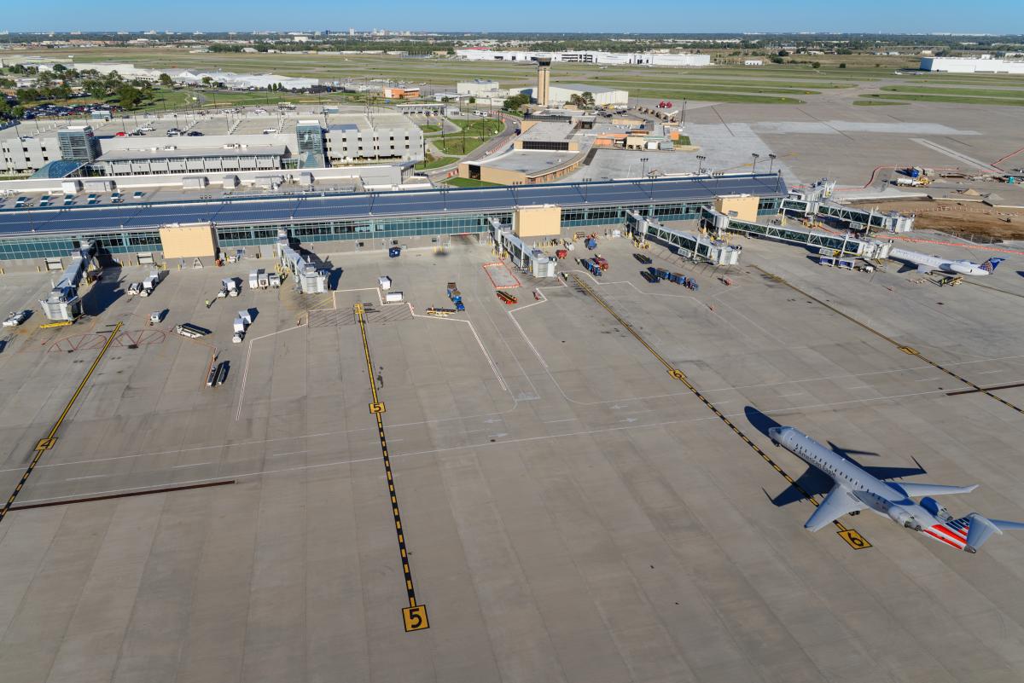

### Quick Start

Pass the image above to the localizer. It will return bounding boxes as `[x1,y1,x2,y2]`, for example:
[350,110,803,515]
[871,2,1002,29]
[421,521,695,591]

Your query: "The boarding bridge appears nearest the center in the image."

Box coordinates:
[480,218,568,274]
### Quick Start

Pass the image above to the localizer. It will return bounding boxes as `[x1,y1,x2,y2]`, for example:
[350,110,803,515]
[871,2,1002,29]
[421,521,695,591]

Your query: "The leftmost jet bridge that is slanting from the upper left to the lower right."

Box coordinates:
[273,229,322,290]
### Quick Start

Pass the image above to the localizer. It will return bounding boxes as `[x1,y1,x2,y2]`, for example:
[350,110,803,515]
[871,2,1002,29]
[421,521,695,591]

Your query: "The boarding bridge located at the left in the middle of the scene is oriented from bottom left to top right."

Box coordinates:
[34,239,116,319]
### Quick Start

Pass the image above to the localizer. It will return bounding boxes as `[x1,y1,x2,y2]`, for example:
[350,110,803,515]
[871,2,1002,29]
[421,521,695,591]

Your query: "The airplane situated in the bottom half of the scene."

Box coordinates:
[770,426,1024,560]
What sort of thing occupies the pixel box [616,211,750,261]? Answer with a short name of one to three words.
jet bridge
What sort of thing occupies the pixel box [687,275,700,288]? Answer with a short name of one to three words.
vehicle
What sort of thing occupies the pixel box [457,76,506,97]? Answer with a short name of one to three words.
building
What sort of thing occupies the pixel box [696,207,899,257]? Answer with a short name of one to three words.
jet bridge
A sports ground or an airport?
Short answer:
airport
